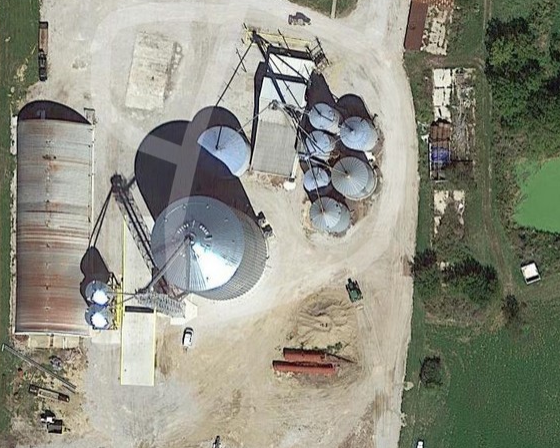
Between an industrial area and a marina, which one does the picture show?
industrial area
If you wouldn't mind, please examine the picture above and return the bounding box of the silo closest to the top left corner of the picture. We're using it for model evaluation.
[198,124,253,179]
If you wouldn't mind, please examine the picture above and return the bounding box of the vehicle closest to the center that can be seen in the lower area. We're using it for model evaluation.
[348,276,362,300]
